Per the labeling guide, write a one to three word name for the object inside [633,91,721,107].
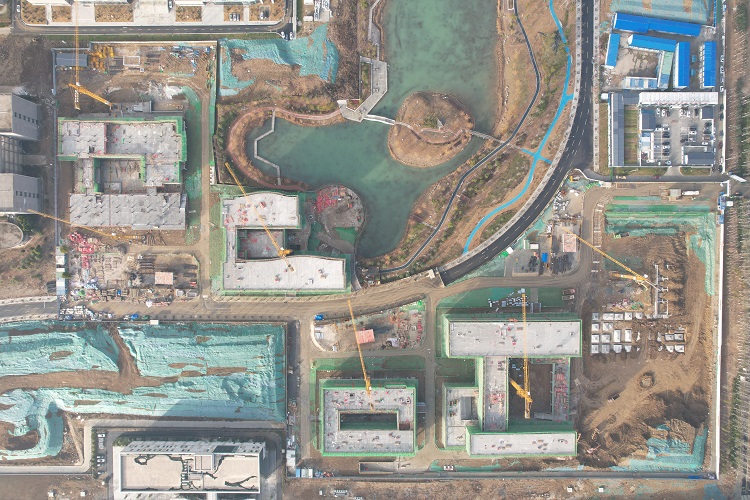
building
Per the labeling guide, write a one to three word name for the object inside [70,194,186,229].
building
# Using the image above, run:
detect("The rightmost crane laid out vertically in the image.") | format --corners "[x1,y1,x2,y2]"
[508,291,536,425]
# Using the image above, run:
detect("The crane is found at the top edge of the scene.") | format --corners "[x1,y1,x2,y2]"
[67,0,115,109]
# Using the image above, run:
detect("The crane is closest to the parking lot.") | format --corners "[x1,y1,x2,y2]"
[578,235,662,291]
